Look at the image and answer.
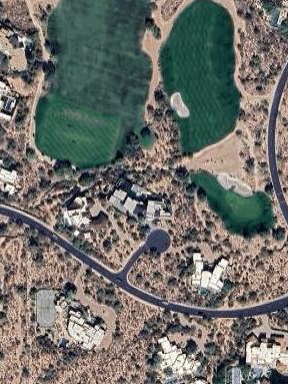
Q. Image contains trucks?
No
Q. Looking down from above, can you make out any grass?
Yes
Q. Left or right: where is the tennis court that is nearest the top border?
left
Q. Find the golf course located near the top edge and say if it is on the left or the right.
right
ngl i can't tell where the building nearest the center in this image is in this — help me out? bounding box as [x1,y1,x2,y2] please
[104,183,172,222]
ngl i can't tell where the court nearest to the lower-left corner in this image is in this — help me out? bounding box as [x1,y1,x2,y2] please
[36,289,56,326]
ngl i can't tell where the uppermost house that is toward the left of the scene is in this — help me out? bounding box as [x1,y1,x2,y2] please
[0,26,28,70]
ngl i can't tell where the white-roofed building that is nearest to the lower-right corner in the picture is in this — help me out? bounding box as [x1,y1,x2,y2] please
[241,335,288,375]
